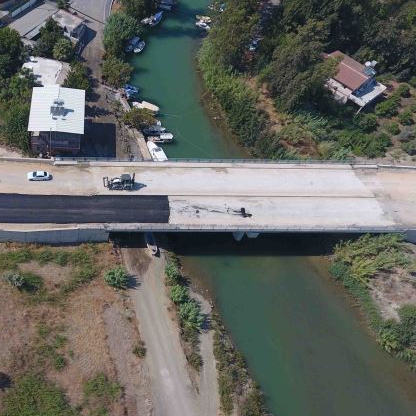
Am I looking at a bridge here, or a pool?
bridge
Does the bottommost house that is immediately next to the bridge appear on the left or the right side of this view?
left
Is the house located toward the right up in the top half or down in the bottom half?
top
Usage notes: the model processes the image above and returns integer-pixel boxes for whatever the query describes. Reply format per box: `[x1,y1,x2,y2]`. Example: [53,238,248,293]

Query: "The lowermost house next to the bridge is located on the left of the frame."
[27,87,85,153]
